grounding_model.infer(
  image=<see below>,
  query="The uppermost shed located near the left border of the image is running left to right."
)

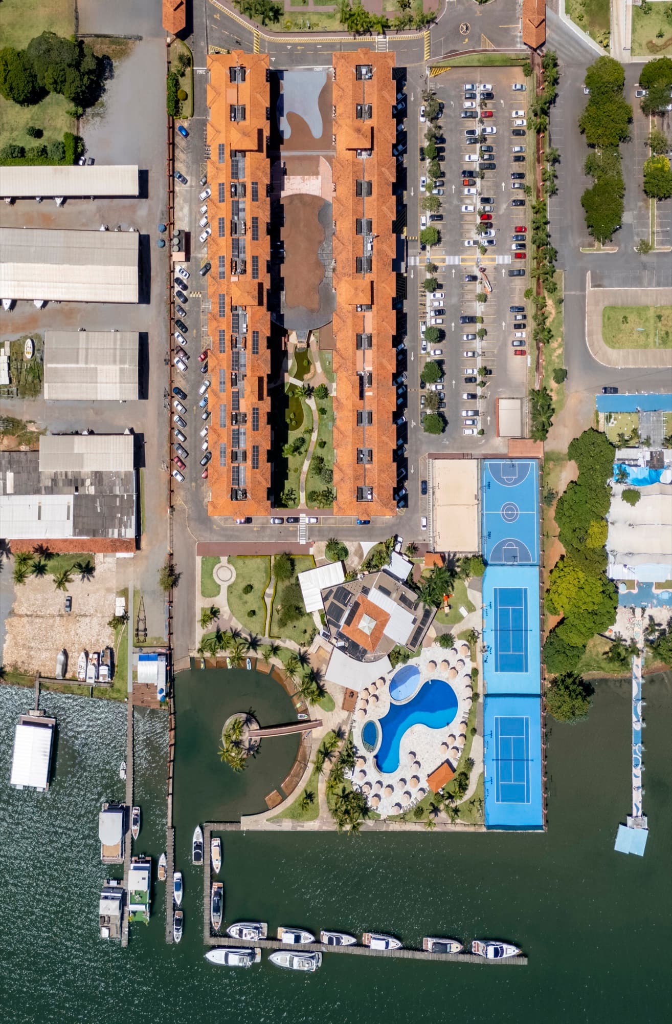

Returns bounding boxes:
[0,165,141,201]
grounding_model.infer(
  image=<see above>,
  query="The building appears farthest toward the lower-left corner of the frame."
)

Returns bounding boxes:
[10,709,60,790]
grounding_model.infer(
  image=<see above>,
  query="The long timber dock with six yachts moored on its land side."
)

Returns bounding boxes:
[210,936,528,964]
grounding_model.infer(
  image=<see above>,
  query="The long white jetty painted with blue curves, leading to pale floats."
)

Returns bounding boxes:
[613,653,648,856]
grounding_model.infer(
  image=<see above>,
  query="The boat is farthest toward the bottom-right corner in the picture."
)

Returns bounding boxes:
[471,939,522,959]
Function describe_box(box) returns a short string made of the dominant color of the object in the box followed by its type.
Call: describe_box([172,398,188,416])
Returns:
white vehicle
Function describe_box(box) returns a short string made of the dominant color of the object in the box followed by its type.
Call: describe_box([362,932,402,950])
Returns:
white boat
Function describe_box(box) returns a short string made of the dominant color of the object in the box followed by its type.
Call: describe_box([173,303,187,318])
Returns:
gray car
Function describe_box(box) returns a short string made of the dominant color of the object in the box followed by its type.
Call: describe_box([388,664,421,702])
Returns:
blue swimming pool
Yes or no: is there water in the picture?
Yes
